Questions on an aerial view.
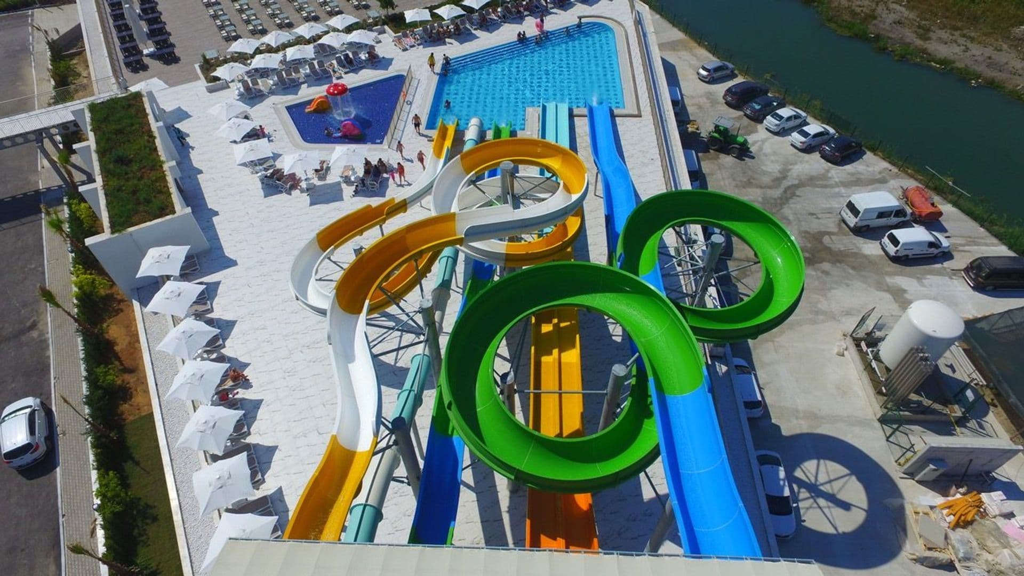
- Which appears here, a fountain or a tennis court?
fountain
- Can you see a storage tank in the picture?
Yes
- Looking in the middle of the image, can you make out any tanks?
No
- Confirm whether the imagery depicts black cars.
Yes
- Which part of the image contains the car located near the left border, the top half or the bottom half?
bottom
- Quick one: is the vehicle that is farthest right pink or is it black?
black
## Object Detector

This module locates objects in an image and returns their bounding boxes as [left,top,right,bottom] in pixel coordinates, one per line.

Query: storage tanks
[855,307,961,380]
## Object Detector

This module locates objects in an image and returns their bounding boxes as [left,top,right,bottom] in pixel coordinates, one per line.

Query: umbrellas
[253,54,286,86]
[281,152,325,191]
[212,65,250,97]
[167,356,231,415]
[401,8,434,26]
[228,40,265,61]
[234,142,278,179]
[347,31,380,61]
[139,245,195,288]
[325,145,369,183]
[215,121,260,148]
[260,33,295,55]
[130,79,169,100]
[434,6,467,22]
[151,280,205,326]
[122,0,156,51]
[165,322,223,368]
[185,449,270,525]
[326,16,360,37]
[295,24,331,45]
[460,0,493,11]
[199,503,274,576]
[179,401,250,471]
[283,46,319,76]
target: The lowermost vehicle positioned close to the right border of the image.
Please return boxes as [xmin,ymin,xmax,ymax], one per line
[972,247,1024,287]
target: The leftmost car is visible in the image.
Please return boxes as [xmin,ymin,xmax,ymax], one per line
[1,401,48,465]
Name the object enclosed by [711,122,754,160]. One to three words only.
work vehicle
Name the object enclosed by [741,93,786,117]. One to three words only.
car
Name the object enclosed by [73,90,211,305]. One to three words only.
building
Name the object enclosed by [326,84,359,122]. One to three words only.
fountain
